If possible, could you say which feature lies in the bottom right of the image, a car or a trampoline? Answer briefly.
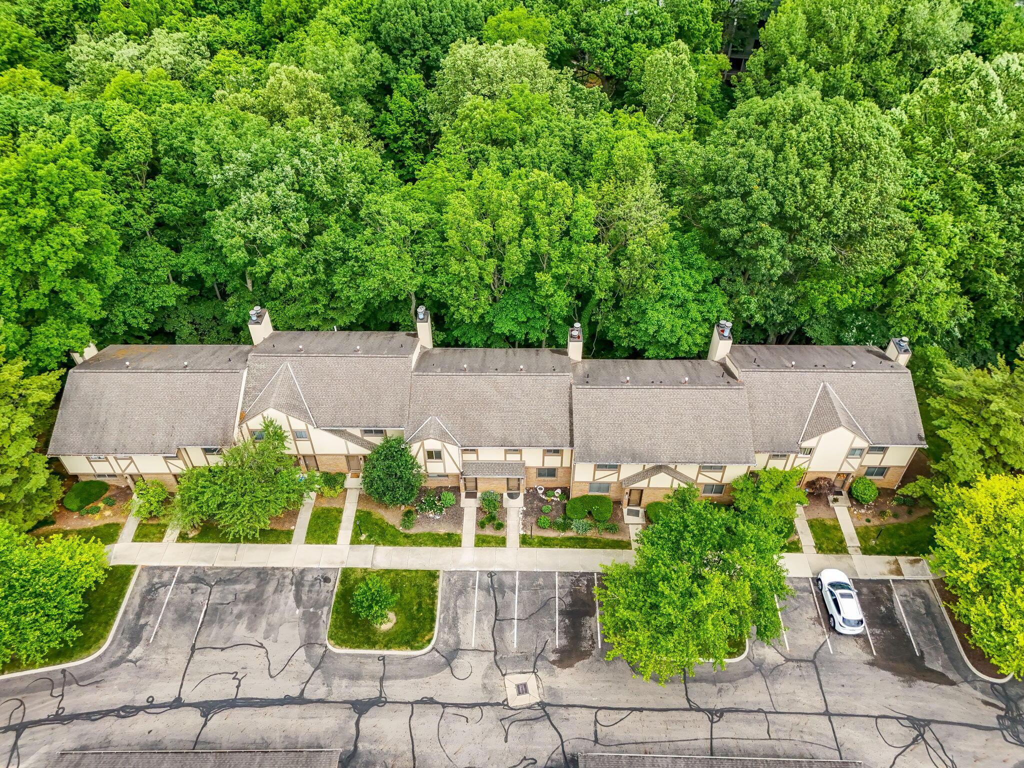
car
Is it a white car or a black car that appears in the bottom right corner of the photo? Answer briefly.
white car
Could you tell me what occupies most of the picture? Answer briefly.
trees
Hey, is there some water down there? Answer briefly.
No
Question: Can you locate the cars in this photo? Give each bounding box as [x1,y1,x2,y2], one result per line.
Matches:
[819,569,867,636]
